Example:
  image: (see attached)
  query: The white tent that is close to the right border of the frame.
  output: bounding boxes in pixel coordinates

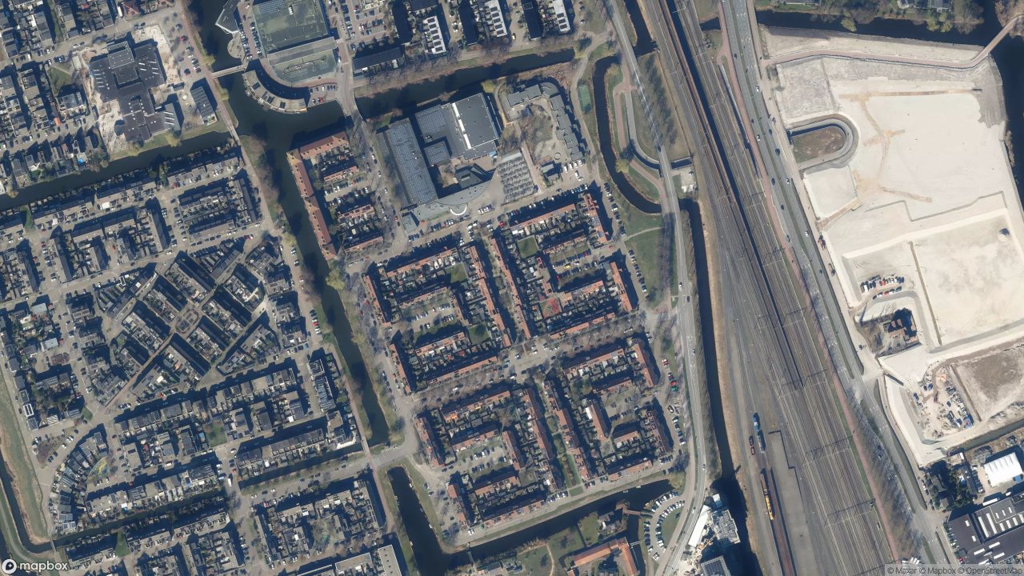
[984,453,1020,485]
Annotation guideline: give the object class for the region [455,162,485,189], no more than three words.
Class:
building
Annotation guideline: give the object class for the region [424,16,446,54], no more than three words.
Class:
building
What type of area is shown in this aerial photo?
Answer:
residential area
